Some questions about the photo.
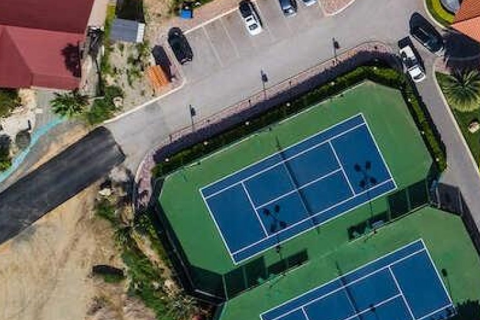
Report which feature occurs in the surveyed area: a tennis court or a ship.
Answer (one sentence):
Looking from above, you can make out a tennis court.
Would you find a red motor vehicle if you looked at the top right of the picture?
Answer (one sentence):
No, there's no red motor vehicle to be seen at the top right of the picture.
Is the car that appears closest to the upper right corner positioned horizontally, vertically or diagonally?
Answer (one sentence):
The car that appears closest to the upper right corner is laid out diagonally.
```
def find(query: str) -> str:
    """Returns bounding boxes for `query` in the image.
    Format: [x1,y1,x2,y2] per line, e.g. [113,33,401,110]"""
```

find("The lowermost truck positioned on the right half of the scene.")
[399,43,426,83]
